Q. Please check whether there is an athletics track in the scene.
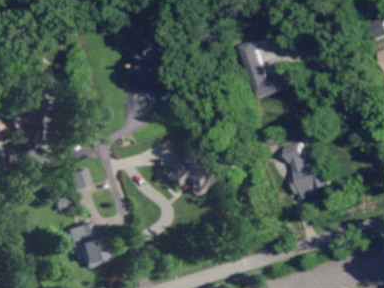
No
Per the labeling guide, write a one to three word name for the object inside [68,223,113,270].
house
